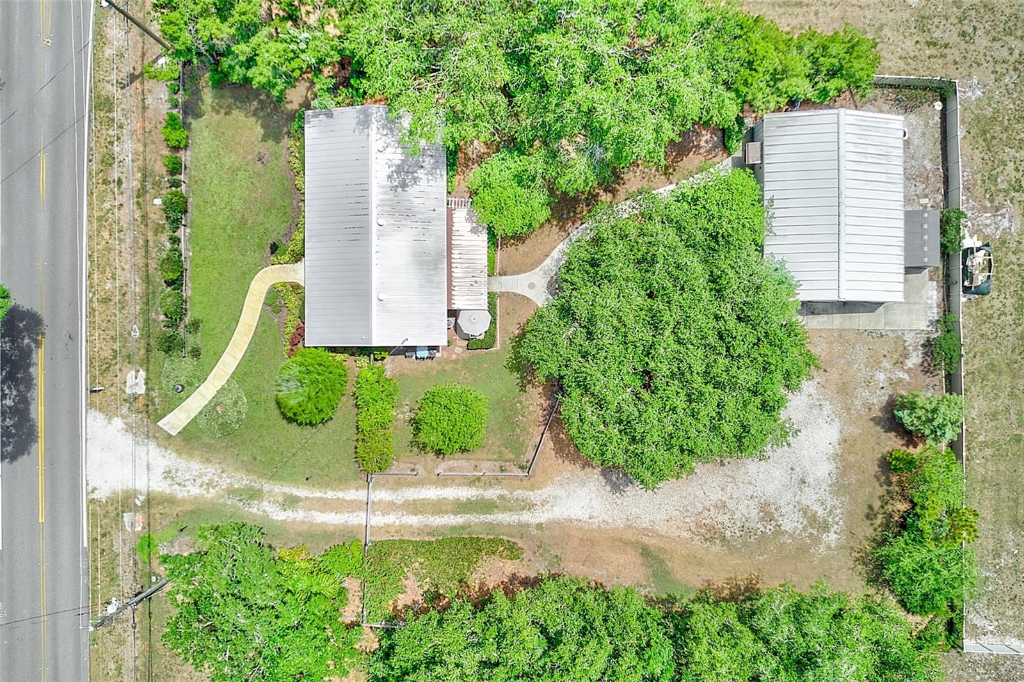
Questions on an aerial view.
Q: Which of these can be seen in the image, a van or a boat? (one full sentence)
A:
Looking from above, you can make out a boat.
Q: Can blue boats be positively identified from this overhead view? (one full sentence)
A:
No, there appears to be no blue boat in this shot.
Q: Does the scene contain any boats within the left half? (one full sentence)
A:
No, I see no boat within the left half.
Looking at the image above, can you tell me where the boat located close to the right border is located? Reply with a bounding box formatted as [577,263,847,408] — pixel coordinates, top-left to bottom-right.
[964,240,994,295]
